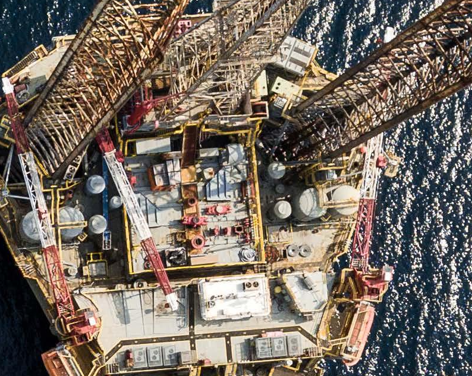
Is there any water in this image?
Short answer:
Yes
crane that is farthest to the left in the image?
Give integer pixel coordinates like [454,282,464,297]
[0,73,101,347]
